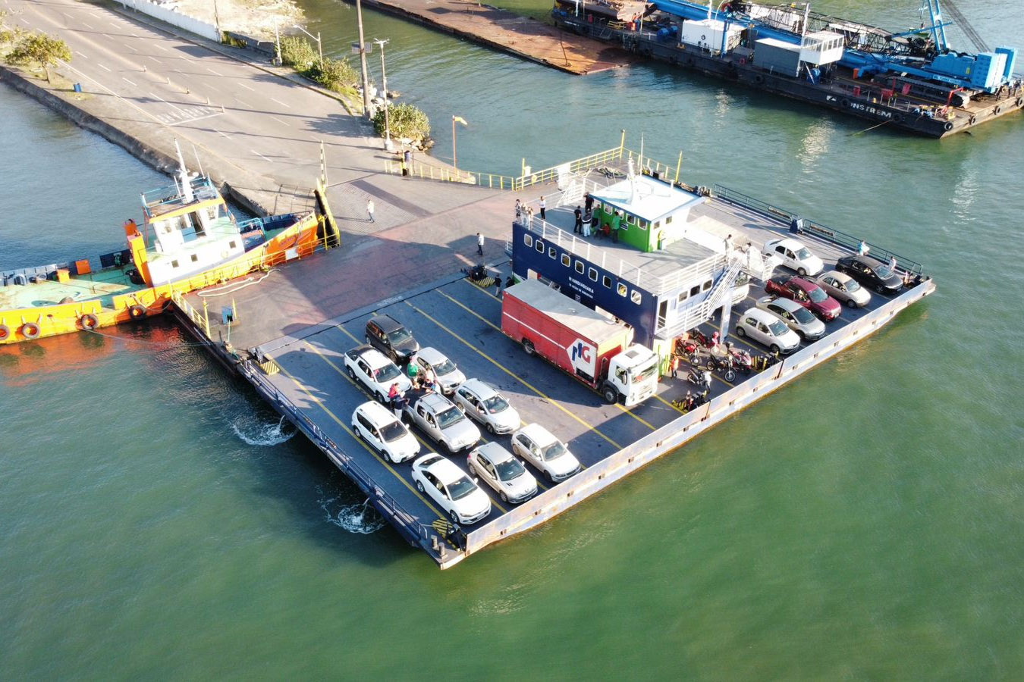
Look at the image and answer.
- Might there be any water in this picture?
Yes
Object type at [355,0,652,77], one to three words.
ship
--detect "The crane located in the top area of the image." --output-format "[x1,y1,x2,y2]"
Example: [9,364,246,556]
[718,0,1024,108]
